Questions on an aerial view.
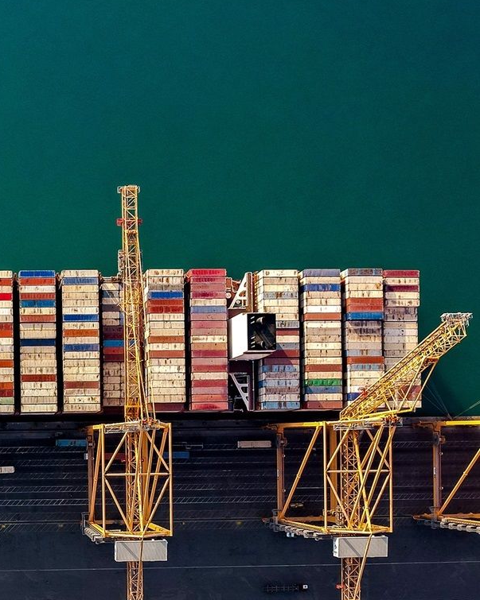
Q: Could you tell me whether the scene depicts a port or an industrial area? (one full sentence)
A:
The area seen from above is a port.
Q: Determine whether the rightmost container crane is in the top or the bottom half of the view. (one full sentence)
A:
The bottom half of the photo is where the rightmost container crane is.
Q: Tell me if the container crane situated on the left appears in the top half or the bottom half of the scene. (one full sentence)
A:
You can find the container crane situated on the left in the bottom half.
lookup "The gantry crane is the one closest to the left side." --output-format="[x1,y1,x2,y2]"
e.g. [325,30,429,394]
[66,185,174,600]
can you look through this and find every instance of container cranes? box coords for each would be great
[250,306,473,600]
[406,418,480,531]
[66,185,174,600]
